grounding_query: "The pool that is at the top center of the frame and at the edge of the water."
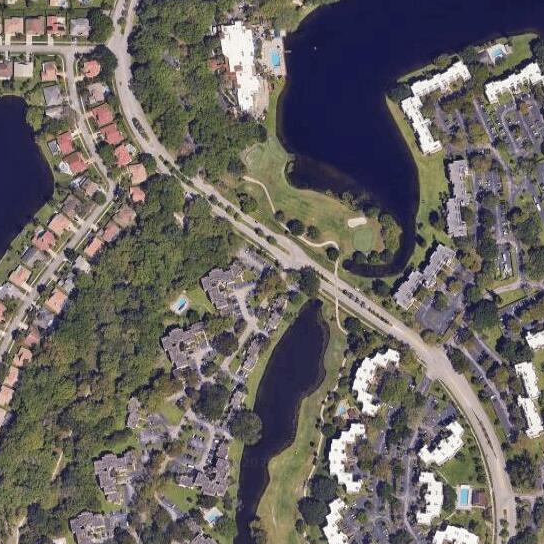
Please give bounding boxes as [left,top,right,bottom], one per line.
[264,36,284,74]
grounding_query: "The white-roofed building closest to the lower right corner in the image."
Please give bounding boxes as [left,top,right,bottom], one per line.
[433,524,480,544]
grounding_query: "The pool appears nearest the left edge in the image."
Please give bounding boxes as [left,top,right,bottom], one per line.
[170,295,188,314]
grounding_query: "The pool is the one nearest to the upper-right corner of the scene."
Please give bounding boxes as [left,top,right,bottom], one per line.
[484,43,508,63]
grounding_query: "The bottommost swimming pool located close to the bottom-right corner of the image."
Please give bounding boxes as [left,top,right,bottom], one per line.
[456,486,473,510]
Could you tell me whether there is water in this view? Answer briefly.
Yes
